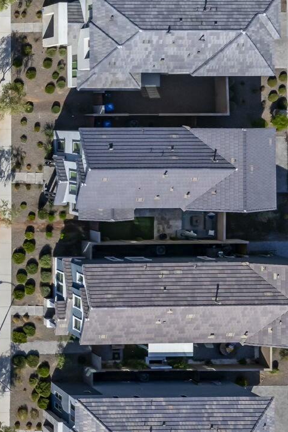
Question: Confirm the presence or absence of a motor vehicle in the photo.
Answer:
No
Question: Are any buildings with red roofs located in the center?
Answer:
No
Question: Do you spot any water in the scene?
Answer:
No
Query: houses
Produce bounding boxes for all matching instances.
[37,255,288,357]
[43,0,283,92]
[39,127,277,223]
[43,381,275,432]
